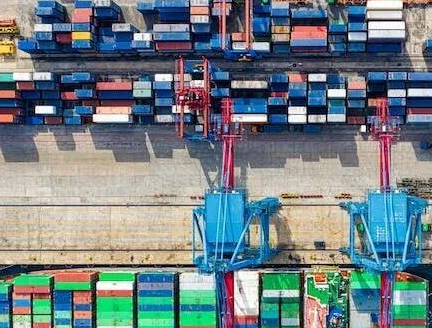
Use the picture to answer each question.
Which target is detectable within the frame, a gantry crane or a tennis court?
gantry crane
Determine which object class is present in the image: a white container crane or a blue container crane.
blue container crane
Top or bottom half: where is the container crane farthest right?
bottom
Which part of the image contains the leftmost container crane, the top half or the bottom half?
top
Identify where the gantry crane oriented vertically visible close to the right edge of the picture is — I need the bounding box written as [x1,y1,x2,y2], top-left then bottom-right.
[336,99,428,328]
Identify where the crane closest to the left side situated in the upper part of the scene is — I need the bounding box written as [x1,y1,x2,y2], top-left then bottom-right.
[178,55,228,140]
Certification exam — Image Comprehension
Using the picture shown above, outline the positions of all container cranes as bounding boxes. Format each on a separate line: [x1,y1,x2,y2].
[178,55,228,140]
[187,99,284,328]
[218,0,266,60]
[336,99,428,328]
